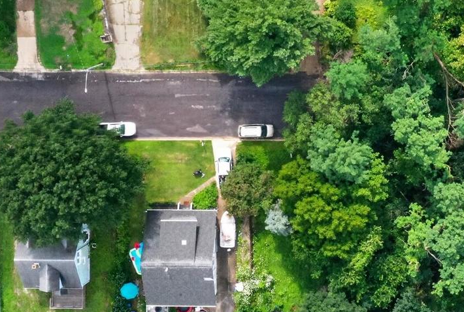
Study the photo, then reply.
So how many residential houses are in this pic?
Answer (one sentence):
In total, there are 2 residential houses in the scene.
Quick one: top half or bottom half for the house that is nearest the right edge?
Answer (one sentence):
It is in the bottom half that the house that is nearest the right edge appears.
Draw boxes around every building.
[13,226,90,291]
[142,209,219,308]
